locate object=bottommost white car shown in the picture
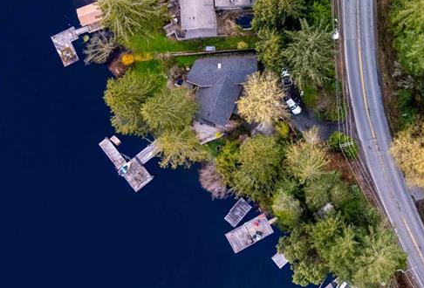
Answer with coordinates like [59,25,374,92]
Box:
[284,95,302,116]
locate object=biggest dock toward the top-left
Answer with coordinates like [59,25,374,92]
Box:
[49,17,111,67]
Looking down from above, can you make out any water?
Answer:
Yes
